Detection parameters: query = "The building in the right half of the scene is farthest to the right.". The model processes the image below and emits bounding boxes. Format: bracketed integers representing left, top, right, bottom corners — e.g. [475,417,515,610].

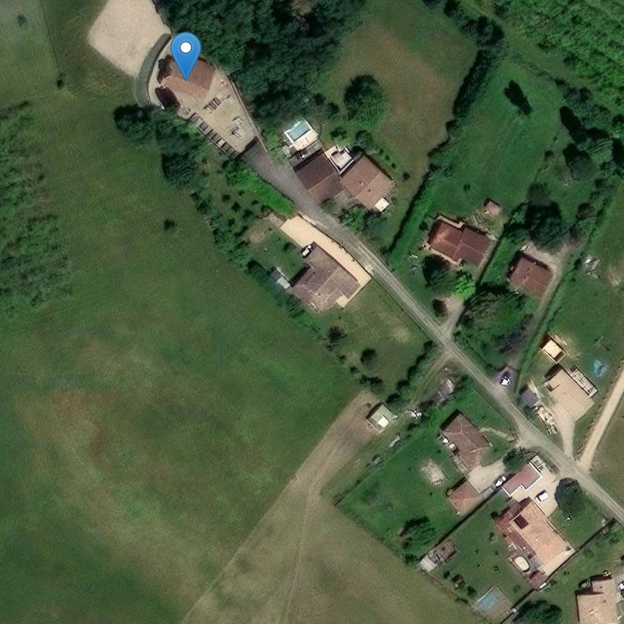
[577,580,622,624]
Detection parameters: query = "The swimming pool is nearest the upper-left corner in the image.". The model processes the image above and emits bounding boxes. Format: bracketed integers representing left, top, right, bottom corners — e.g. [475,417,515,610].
[284,119,318,150]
